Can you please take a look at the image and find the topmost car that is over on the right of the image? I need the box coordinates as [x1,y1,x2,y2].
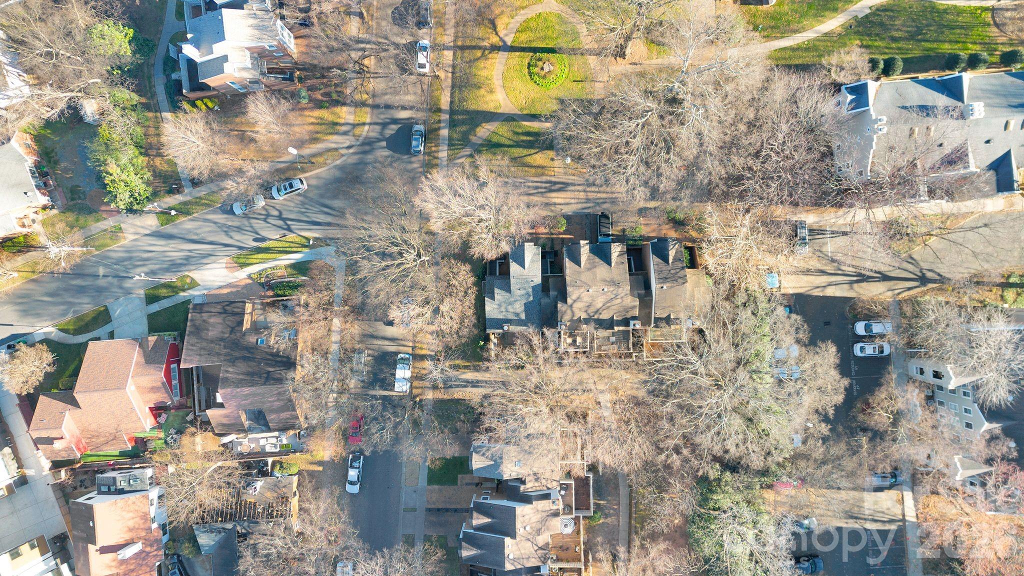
[793,221,811,256]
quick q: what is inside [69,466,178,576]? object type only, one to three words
house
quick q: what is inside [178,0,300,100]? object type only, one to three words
house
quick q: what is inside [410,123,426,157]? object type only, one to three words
car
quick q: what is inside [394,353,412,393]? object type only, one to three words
vehicle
